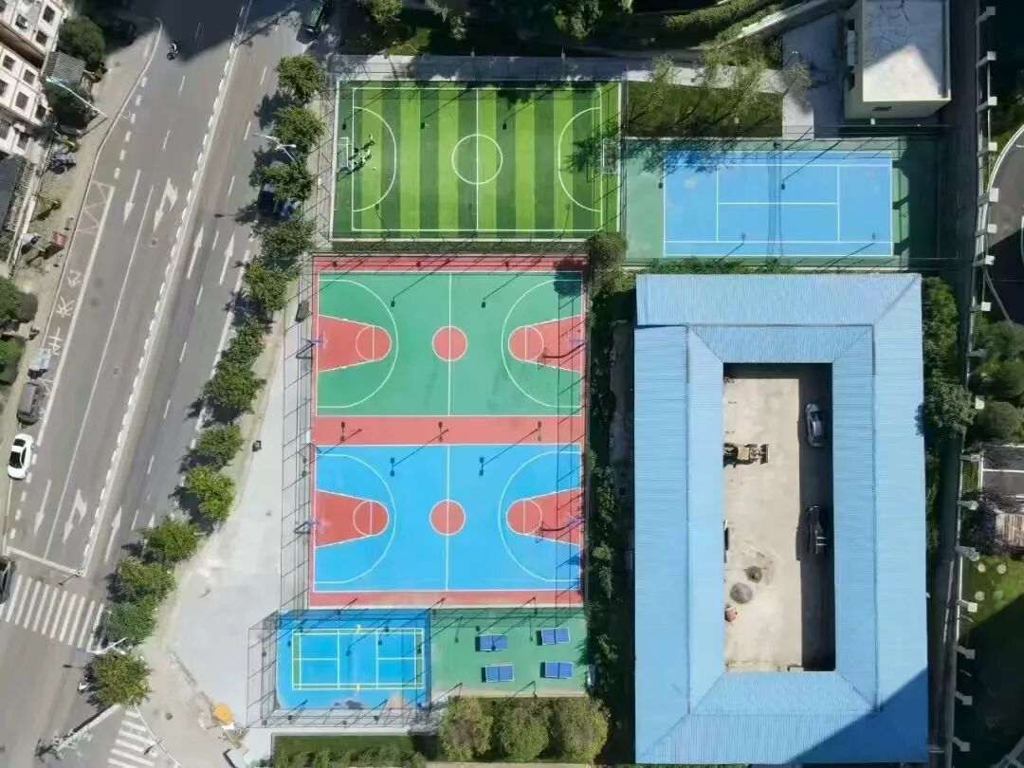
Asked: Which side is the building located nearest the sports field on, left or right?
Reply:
right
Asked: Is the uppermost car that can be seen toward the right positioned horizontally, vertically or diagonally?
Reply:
vertically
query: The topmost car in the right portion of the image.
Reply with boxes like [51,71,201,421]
[803,400,826,445]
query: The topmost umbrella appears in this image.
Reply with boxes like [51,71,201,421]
[213,700,234,722]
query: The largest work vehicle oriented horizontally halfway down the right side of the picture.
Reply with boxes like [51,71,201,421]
[724,444,767,463]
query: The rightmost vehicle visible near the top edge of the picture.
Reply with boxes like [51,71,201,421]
[296,0,331,44]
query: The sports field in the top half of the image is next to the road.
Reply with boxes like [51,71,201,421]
[335,81,617,237]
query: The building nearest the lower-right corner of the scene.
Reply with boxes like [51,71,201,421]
[634,275,929,765]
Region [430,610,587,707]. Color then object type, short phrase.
green tennis court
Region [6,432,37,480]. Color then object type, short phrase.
white car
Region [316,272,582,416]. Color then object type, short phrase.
green basketball court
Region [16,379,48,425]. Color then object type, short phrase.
gray car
